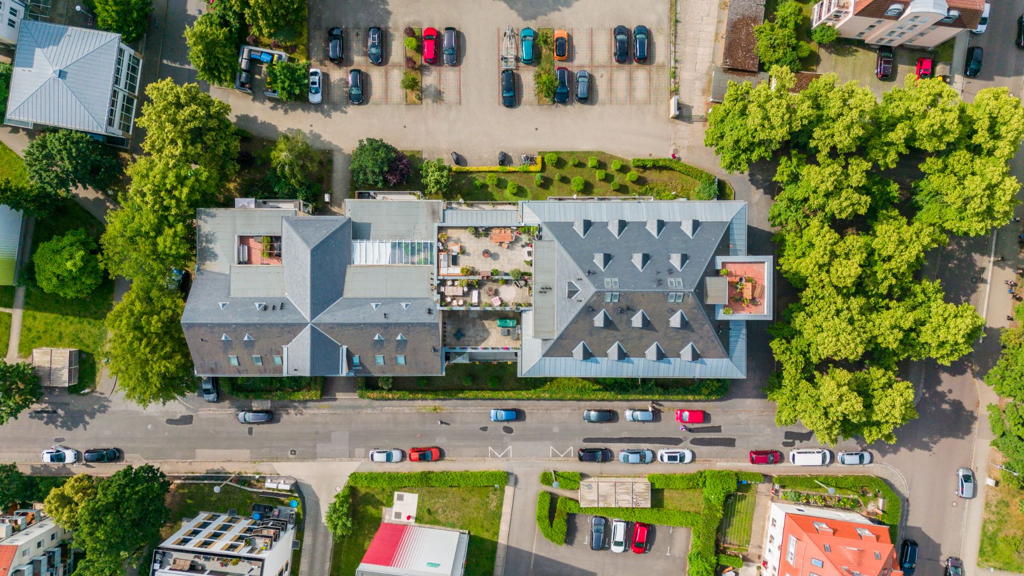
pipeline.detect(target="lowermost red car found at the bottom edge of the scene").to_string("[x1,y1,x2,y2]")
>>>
[632,523,650,553]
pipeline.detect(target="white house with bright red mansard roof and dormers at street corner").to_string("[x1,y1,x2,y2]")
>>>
[764,504,891,576]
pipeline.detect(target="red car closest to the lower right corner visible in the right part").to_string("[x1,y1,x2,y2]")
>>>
[748,449,780,466]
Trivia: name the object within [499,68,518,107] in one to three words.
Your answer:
car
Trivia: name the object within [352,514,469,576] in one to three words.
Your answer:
building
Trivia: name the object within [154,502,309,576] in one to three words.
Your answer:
building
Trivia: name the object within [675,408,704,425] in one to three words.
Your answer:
car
